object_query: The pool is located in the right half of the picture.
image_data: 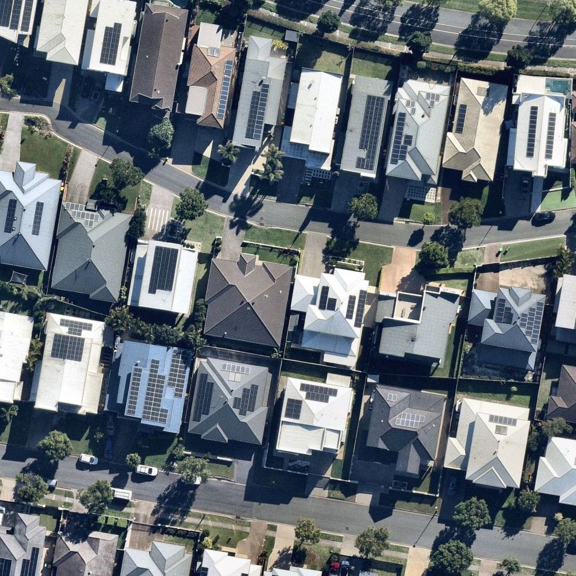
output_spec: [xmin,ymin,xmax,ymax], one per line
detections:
[545,79,573,96]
